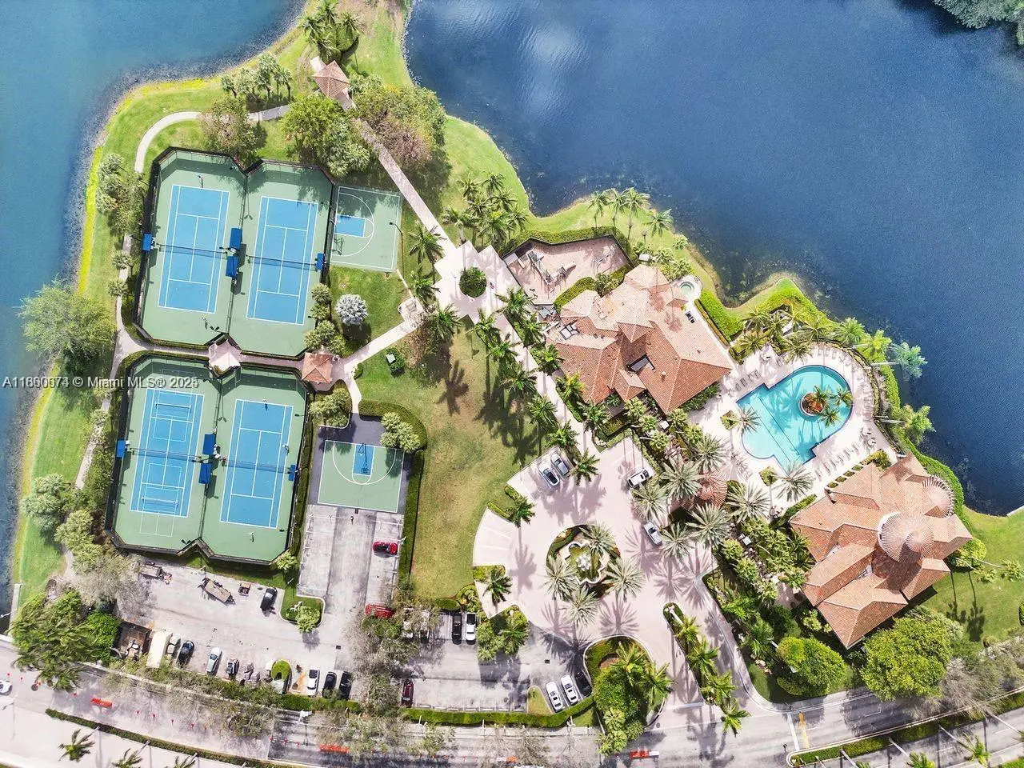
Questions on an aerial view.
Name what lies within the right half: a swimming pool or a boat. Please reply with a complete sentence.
There is a swimming pool within the right half.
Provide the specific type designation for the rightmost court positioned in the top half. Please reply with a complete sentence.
The rightmost court positioned in the top half in the image is a basketball court.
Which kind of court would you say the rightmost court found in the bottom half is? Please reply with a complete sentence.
I'd say the rightmost court found in the bottom half is a basketball court.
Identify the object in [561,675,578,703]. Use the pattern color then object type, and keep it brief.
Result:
white car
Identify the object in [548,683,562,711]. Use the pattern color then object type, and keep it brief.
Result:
white car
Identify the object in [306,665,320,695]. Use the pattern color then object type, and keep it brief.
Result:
white vehicle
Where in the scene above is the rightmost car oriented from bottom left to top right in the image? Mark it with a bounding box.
[627,469,651,489]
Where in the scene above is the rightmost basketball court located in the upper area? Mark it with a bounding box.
[328,184,404,273]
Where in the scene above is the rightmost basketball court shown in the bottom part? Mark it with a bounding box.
[317,439,405,514]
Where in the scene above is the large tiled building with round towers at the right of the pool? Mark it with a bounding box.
[790,450,972,649]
